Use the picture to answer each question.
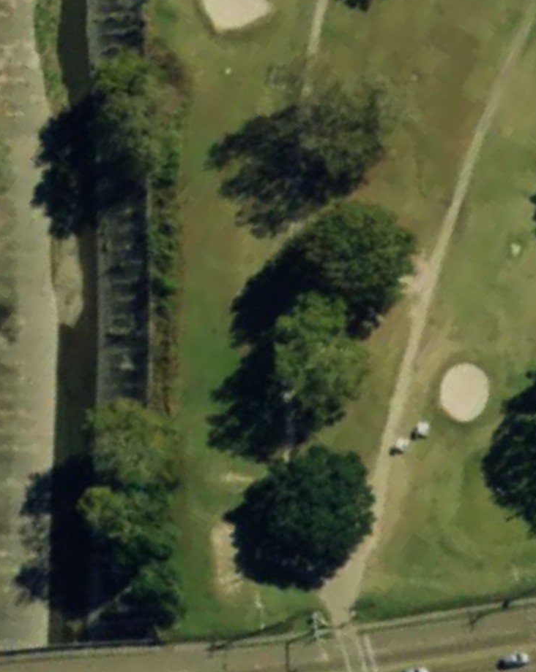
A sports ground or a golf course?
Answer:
golf course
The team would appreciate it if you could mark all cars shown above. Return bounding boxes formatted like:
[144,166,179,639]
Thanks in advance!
[397,666,429,672]
[497,653,533,670]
